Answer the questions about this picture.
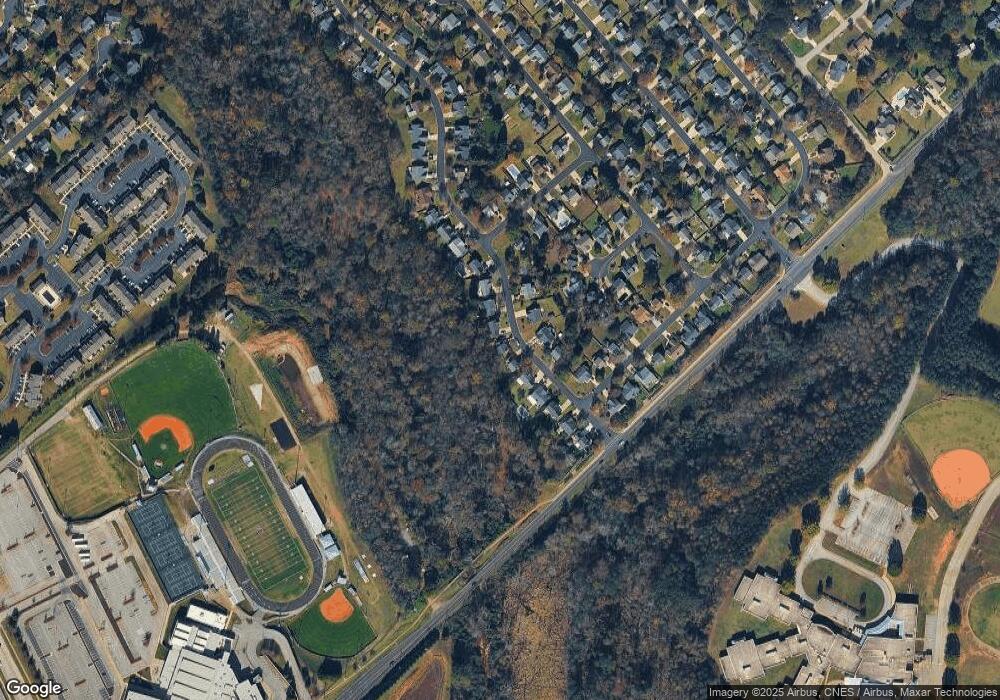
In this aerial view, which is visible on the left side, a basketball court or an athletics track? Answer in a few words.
athletics track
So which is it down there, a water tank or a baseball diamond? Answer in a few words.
baseball diamond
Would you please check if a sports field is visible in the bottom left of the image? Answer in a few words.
Yes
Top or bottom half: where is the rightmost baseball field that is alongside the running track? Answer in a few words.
bottom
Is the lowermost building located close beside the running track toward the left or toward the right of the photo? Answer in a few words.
left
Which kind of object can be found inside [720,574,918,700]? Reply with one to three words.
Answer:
building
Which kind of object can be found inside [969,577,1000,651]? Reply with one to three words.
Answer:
sports field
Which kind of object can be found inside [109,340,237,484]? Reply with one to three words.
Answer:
baseball field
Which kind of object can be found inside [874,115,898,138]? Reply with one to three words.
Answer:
house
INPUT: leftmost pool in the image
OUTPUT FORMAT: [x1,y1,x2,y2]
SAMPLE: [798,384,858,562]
[34,284,61,308]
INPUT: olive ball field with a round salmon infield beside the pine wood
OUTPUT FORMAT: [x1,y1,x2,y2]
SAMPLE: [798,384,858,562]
[902,396,1000,511]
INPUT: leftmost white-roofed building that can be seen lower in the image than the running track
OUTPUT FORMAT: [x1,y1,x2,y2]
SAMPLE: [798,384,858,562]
[125,605,263,700]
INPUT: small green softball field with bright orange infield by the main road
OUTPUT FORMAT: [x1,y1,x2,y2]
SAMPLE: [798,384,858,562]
[289,584,378,658]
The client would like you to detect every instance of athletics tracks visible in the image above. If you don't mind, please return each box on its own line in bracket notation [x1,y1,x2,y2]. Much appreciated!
[188,435,325,613]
